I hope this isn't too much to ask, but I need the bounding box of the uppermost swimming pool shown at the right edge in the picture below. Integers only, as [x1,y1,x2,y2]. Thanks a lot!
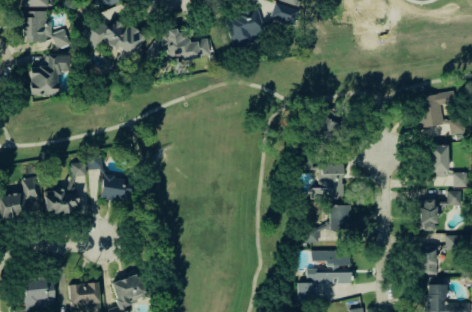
[448,212,463,229]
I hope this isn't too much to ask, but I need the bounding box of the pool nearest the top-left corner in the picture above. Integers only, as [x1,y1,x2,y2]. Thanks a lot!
[52,14,66,28]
